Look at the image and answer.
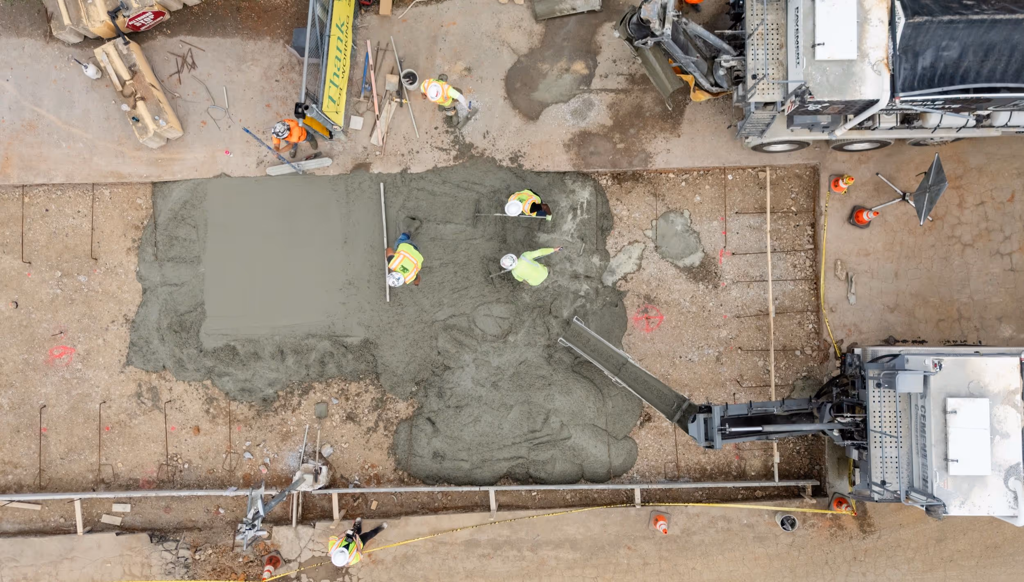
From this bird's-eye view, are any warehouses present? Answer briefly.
No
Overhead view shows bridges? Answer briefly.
No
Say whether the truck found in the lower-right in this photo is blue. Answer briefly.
No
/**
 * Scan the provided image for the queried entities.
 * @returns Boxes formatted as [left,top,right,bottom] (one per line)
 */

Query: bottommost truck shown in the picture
[561,315,1024,531]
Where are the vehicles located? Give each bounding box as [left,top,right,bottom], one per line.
[561,315,1024,531]
[613,0,1024,151]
